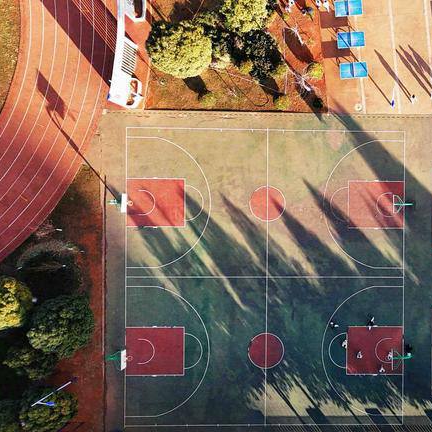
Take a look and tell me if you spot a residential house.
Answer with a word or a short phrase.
No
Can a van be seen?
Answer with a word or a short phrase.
No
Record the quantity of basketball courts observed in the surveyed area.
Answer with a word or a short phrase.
2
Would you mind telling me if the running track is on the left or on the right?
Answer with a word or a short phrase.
left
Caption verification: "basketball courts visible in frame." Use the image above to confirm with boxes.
[125,127,404,277]
[123,277,403,426]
